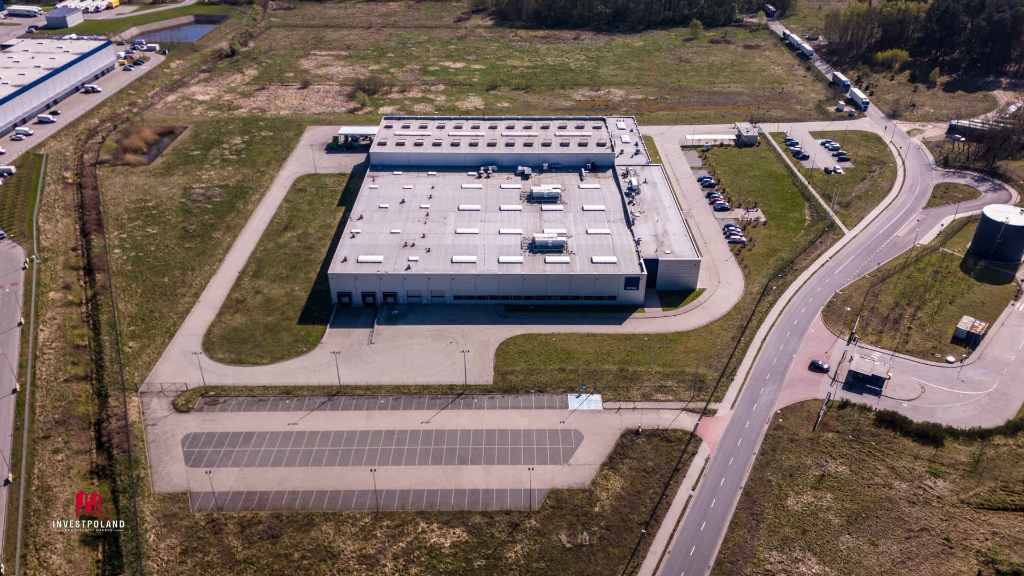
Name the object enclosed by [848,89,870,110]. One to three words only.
truck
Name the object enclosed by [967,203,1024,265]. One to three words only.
water tank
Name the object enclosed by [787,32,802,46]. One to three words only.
vehicle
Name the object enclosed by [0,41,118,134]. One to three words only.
building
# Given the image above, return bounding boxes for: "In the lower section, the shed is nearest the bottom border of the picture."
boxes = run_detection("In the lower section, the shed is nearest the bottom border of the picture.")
[847,351,900,391]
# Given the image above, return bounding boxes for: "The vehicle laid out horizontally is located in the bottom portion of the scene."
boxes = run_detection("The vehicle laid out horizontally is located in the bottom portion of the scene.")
[808,360,830,372]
